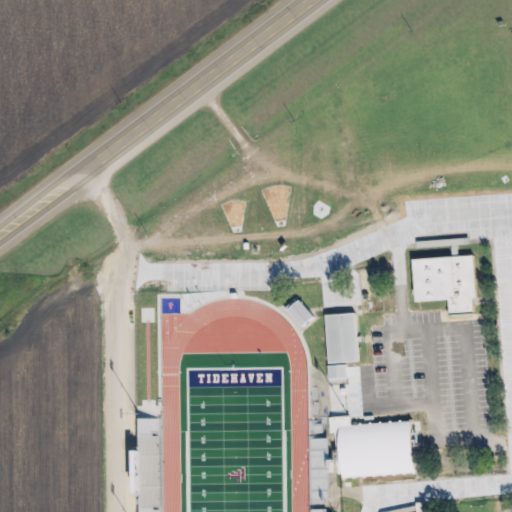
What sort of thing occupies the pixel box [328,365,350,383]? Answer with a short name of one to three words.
shed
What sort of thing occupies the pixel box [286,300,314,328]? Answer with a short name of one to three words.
building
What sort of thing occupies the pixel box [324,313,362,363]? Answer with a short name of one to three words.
barn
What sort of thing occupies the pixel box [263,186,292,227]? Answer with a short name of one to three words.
sports field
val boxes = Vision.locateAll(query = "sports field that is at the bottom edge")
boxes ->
[180,354,292,512]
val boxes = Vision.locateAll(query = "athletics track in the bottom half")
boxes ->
[162,298,309,512]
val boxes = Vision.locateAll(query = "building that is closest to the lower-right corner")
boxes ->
[338,420,420,482]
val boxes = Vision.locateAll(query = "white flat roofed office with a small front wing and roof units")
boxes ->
[412,255,476,314]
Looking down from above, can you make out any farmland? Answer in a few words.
Yes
